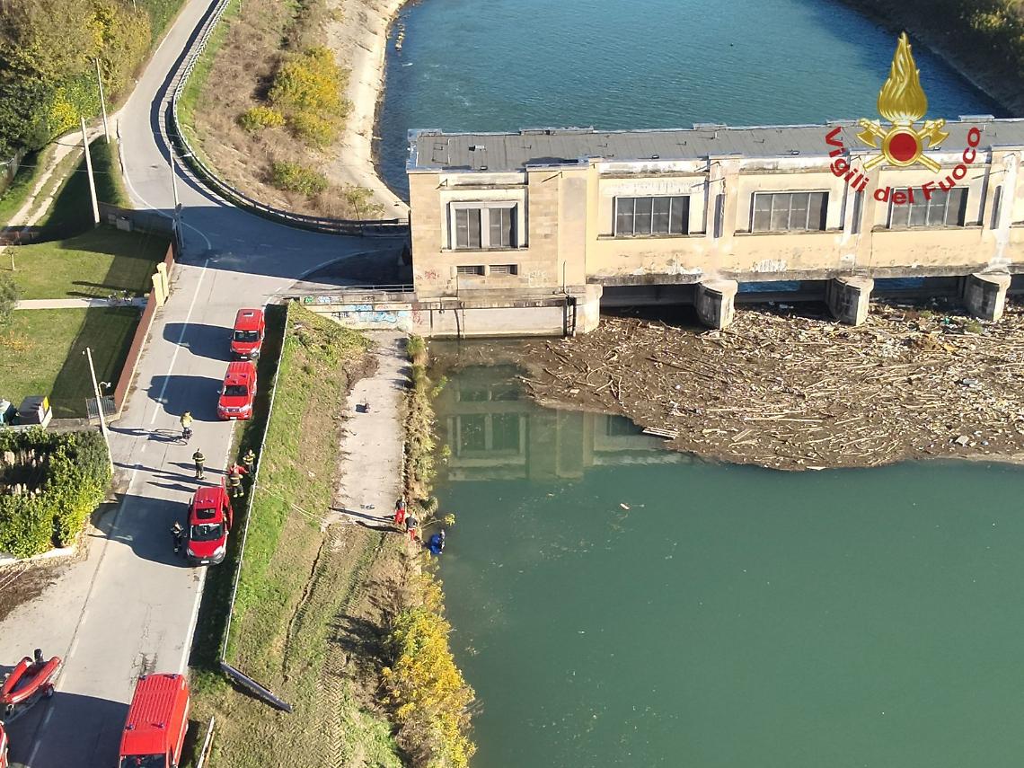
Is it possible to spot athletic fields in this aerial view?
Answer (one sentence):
No, I can see no athletic field in this picture.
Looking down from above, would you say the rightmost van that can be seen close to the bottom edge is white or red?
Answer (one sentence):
In this view, the rightmost van that can be seen close to the bottom edge is red.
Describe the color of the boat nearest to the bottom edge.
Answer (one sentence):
In this view, the boat nearest to the bottom edge is red.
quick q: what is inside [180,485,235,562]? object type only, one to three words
car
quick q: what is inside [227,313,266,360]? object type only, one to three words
van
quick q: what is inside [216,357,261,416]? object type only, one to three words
truck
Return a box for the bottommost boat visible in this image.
[0,648,69,711]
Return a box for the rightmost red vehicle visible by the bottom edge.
[118,669,195,768]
